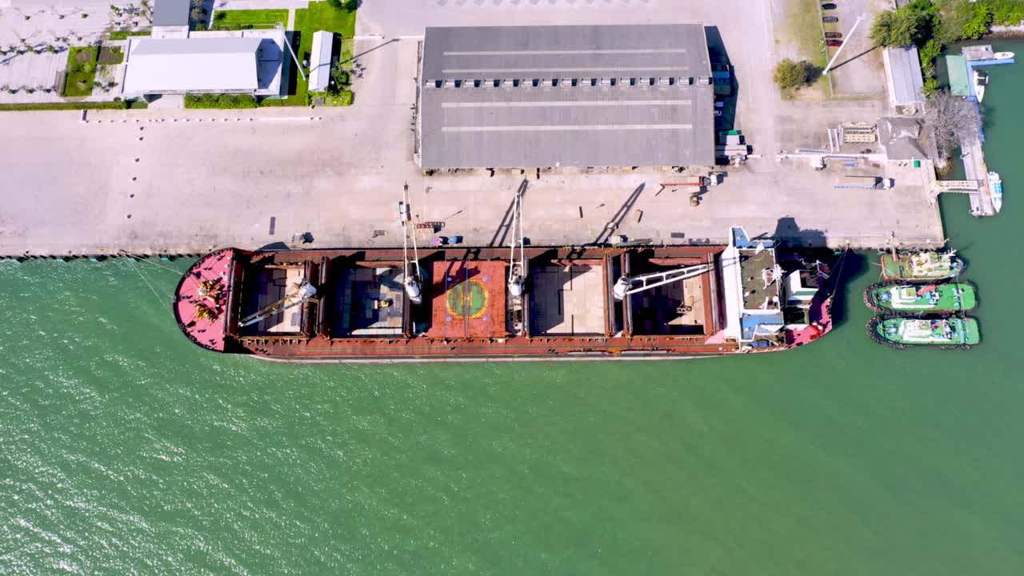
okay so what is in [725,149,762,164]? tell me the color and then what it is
white work vehicle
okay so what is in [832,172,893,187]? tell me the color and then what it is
white vehicle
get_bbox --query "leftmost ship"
[169,184,834,366]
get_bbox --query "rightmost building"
[944,55,971,99]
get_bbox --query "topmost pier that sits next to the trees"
[960,45,993,62]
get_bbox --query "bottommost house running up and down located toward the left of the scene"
[309,30,333,95]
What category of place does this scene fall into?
port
